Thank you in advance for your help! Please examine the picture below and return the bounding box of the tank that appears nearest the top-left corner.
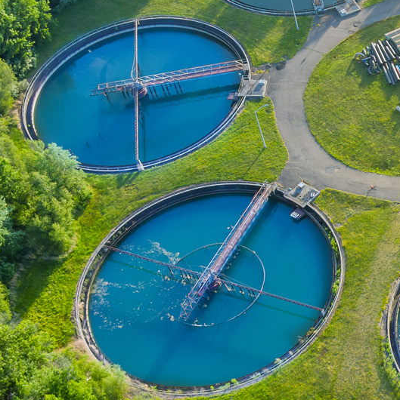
[18,13,253,172]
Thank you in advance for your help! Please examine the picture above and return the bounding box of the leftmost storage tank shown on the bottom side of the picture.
[73,179,345,396]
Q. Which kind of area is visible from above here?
industrial area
